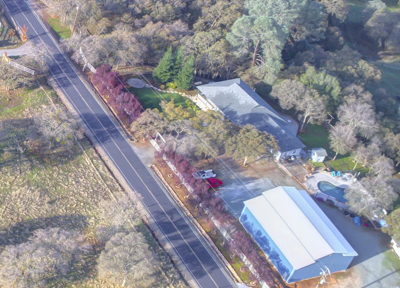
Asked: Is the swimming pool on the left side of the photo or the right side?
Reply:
right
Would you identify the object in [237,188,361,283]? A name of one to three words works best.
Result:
building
